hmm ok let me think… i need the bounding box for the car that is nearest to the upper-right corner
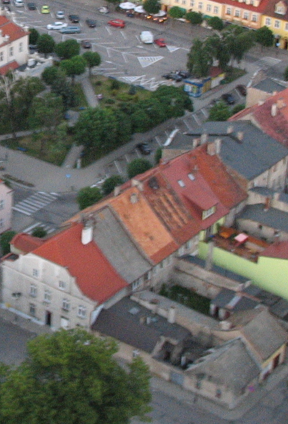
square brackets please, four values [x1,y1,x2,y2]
[231,81,248,96]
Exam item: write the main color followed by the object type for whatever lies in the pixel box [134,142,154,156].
black vehicle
